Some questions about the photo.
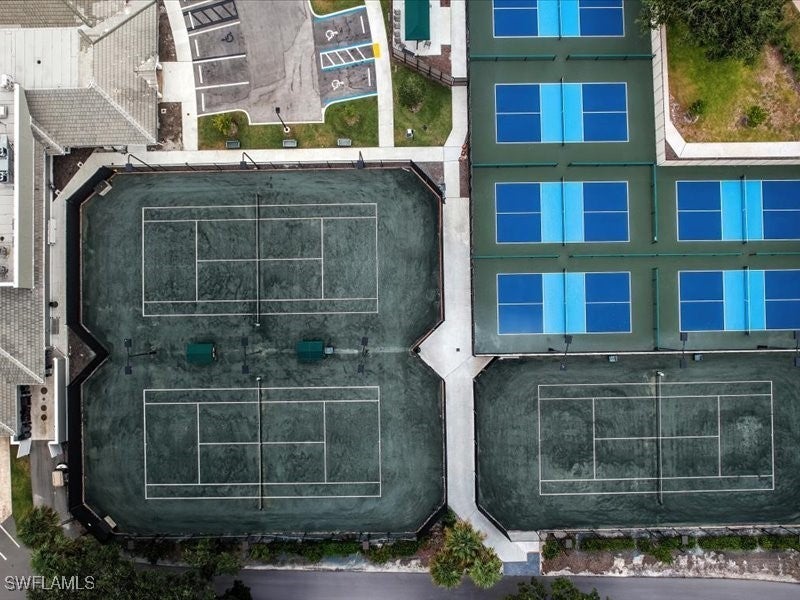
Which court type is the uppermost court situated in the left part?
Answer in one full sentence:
The uppermost court situated in the left part appears to be a tennis court.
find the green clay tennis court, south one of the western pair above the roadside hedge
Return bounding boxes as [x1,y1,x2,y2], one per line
[80,350,447,534]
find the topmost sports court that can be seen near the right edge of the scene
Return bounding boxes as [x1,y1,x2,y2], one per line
[677,180,800,241]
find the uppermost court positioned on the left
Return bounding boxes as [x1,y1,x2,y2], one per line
[80,166,444,352]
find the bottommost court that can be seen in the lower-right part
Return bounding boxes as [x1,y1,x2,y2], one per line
[475,348,800,531]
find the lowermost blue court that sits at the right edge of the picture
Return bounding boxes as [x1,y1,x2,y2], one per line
[679,270,800,332]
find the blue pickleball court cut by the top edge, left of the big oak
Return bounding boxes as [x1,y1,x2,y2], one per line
[492,0,625,38]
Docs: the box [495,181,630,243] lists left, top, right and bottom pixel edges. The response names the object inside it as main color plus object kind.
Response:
blue sports court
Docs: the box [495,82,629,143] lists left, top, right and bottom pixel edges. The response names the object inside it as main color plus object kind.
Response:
blue sports court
